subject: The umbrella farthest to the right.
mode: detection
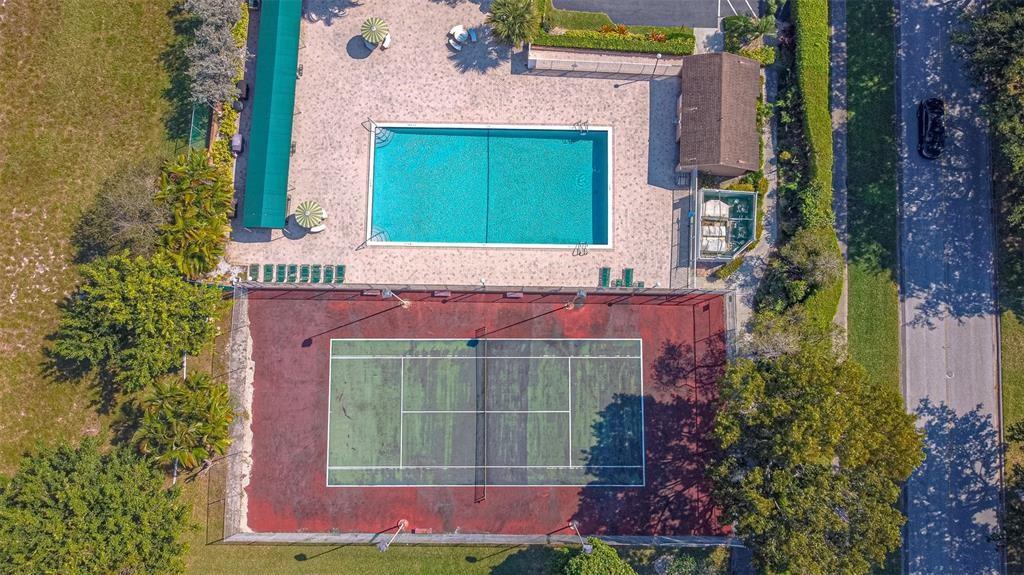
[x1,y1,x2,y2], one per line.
[361,18,388,45]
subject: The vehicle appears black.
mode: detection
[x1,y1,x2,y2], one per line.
[917,98,949,158]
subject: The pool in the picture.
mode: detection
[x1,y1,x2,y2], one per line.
[366,123,613,249]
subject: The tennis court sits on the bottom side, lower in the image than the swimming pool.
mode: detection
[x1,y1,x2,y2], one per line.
[222,289,742,539]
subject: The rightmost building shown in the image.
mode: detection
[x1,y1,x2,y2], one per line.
[674,53,760,173]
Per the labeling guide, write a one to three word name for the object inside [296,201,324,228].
umbrella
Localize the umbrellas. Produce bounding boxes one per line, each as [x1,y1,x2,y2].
[361,18,388,45]
[296,201,324,228]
